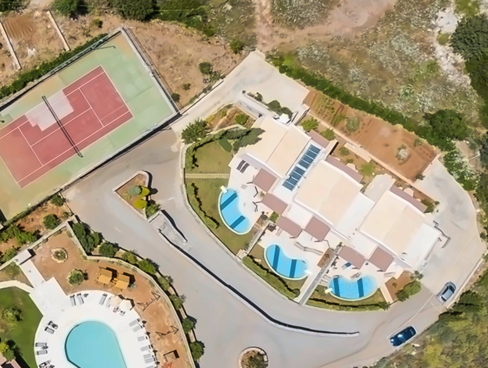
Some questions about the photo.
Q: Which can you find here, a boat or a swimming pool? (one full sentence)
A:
There is a swimming pool in the scene.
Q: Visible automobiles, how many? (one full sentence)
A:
There are 2 automobiles in the image.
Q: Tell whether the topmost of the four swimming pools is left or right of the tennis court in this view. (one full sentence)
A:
Relative to the tennis court, the topmost of the four swimming pools is on the right.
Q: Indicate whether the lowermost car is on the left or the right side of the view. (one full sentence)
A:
The lowermost car is on the right side of the image.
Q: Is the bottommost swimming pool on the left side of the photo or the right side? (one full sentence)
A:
It is on the left.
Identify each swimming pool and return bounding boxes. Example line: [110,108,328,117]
[328,274,378,301]
[63,318,129,368]
[264,243,309,281]
[216,187,252,236]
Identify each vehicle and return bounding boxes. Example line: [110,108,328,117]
[438,280,459,302]
[392,326,419,346]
